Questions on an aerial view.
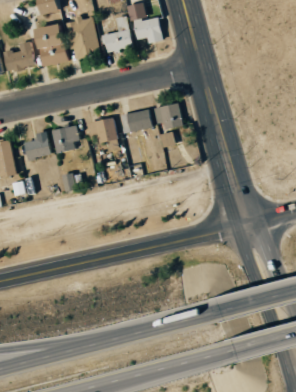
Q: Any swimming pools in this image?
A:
No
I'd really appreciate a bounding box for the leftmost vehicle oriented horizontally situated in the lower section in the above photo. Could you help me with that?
[154,310,200,326]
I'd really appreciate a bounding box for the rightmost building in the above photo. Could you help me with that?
[156,103,186,132]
